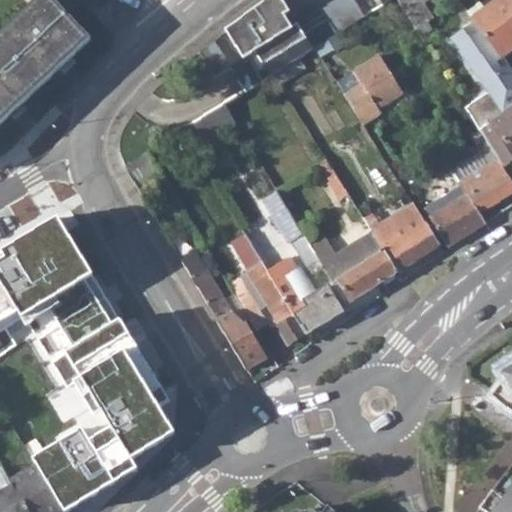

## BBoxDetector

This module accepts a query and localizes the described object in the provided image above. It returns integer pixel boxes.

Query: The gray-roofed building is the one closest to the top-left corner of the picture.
[0,0,92,129]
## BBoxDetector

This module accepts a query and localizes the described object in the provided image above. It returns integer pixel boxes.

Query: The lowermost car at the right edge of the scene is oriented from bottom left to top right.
[474,305,496,323]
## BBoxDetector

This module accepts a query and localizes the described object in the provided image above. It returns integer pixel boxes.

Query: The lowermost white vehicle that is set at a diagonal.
[368,410,396,432]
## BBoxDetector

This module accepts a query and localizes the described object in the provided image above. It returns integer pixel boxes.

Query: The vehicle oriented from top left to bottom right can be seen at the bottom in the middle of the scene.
[252,404,270,424]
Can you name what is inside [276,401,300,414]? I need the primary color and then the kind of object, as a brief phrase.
white vehicle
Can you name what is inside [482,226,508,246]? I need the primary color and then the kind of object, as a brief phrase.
white vehicle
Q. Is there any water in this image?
No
